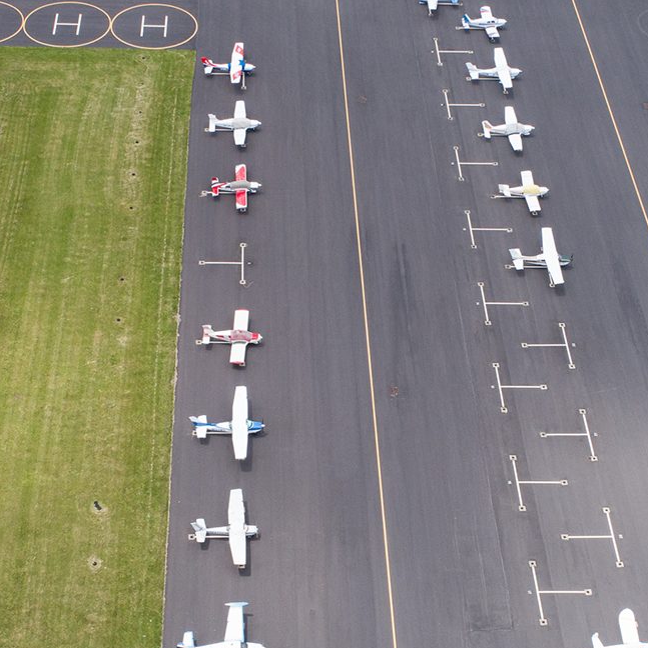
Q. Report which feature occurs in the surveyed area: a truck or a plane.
plane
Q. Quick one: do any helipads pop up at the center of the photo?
No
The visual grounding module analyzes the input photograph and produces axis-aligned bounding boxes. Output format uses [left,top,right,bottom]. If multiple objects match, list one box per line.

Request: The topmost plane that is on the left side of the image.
[201,42,256,82]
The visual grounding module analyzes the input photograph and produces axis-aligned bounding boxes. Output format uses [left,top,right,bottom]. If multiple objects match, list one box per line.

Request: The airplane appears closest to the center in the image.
[202,310,262,365]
